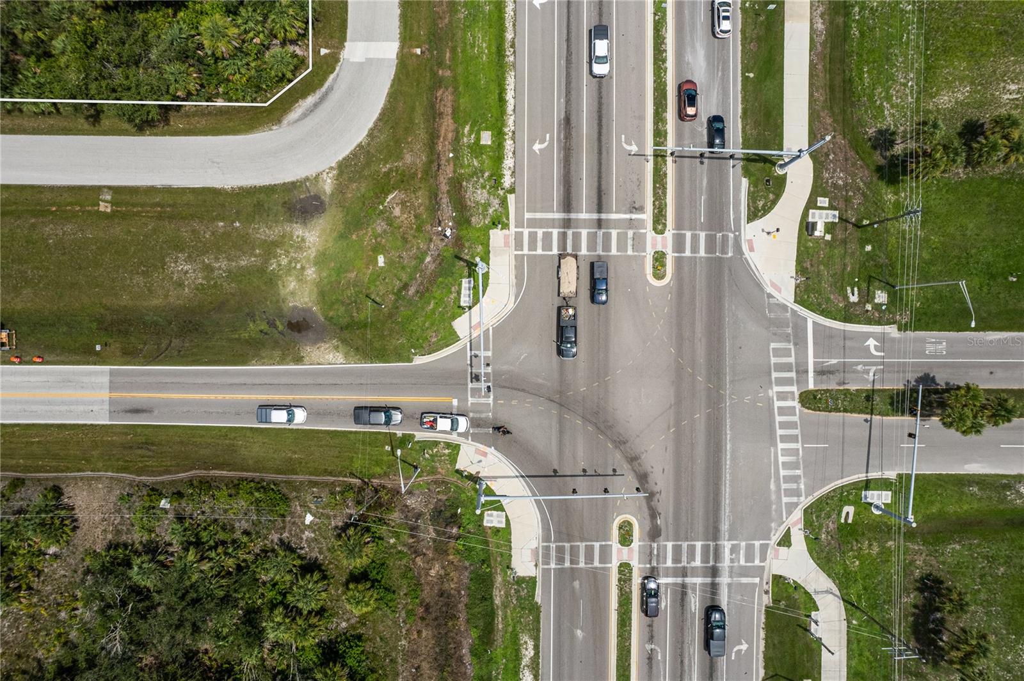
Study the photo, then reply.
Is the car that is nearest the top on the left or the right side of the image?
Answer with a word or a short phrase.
right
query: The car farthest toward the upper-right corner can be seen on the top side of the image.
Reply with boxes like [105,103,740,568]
[712,0,734,39]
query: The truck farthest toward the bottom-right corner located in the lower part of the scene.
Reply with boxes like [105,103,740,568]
[705,604,729,658]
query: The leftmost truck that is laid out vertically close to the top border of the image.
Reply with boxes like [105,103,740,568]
[589,23,612,79]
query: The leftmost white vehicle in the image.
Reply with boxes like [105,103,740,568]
[255,404,308,427]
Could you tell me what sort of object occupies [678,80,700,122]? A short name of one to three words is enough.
car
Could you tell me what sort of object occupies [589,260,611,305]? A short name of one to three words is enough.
truck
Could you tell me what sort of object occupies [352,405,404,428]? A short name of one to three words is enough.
truck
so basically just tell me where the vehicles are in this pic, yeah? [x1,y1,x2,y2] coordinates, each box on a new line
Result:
[419,412,470,435]
[589,260,611,305]
[255,404,308,427]
[352,405,404,428]
[0,329,19,350]
[589,23,612,79]
[707,115,728,155]
[556,306,579,359]
[712,0,734,39]
[640,574,662,618]
[705,604,729,658]
[678,80,700,122]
